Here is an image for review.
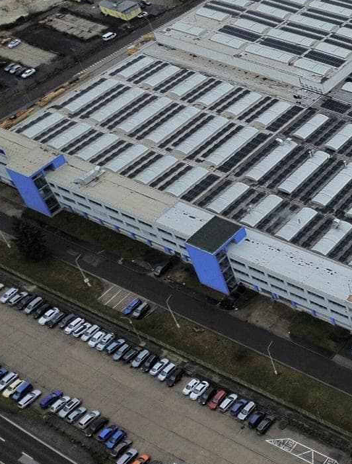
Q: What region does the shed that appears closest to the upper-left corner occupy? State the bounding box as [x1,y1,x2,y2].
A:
[96,0,138,21]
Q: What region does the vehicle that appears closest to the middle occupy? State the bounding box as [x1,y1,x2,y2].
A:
[153,259,170,276]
